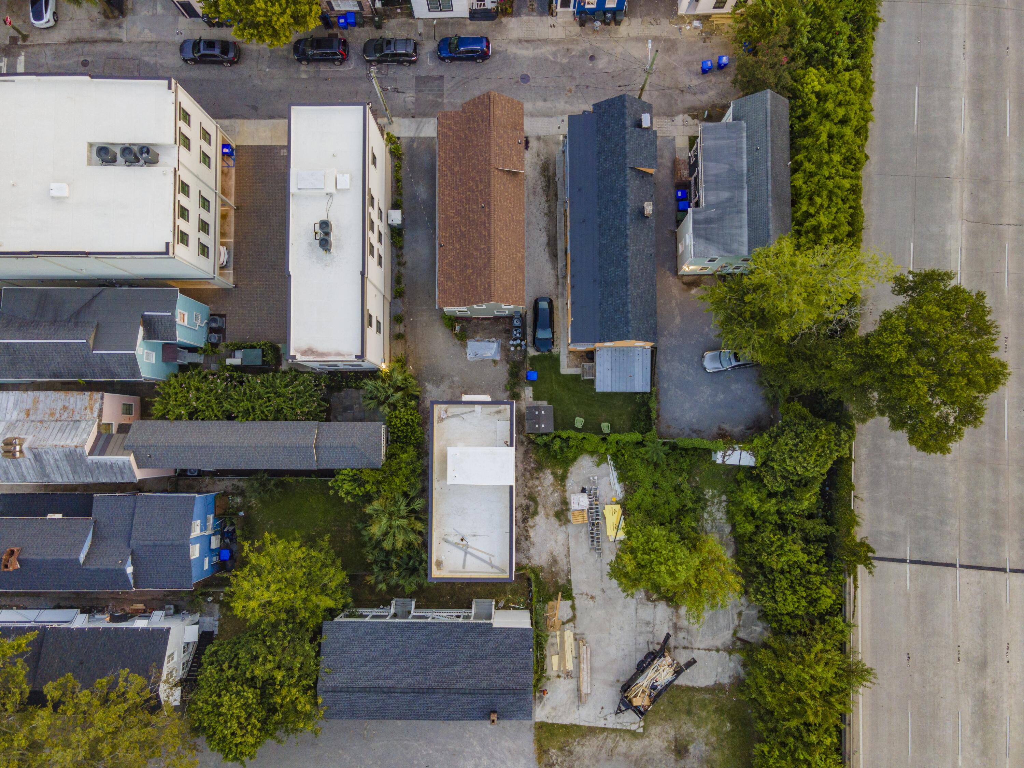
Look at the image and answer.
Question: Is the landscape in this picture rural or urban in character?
urban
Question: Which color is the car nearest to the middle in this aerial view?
black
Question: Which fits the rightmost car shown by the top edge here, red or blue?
blue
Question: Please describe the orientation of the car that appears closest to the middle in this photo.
vertically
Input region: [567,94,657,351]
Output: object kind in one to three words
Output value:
house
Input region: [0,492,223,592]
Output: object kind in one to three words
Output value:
house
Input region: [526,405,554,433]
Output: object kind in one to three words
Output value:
shed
